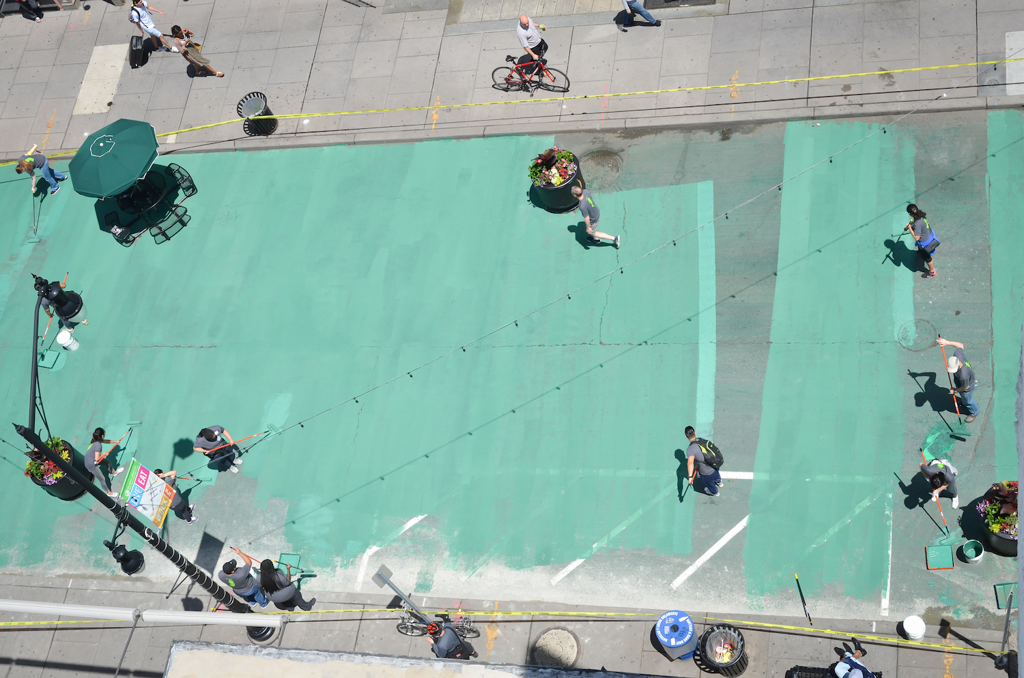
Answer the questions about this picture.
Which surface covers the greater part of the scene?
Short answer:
paved ground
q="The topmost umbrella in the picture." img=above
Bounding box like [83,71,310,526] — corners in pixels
[70,116,158,199]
